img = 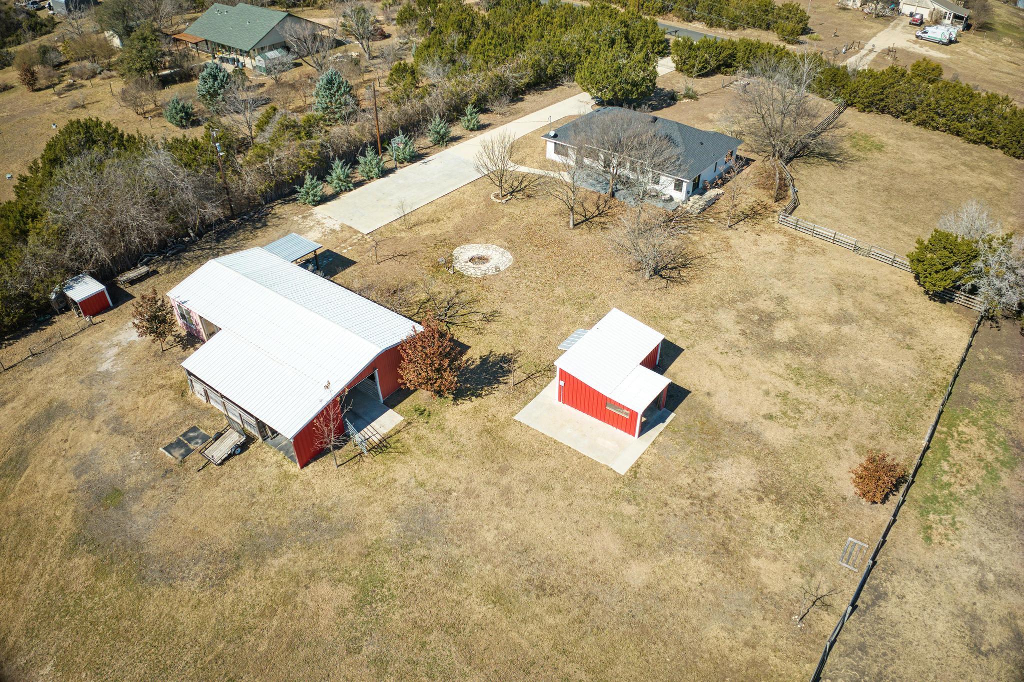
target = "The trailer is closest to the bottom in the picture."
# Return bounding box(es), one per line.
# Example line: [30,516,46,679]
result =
[189,415,247,479]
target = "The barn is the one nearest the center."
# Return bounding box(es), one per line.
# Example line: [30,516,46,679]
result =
[555,308,670,439]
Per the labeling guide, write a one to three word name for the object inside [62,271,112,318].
shed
